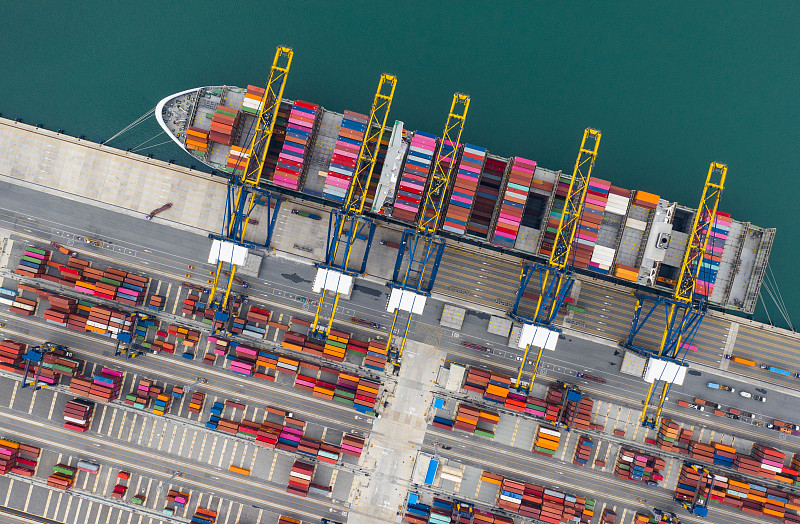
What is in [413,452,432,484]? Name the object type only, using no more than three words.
shed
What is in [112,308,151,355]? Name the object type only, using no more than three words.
crane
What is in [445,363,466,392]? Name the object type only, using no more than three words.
shed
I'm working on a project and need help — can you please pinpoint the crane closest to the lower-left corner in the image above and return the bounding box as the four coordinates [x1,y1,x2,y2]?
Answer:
[18,340,59,387]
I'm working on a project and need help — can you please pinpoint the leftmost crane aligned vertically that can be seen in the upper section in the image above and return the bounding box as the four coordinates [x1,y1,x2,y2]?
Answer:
[204,41,297,316]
